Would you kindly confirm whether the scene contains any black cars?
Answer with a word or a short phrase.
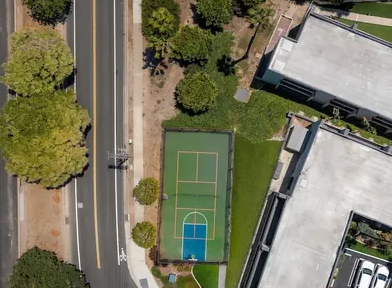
No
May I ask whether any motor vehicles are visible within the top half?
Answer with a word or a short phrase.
No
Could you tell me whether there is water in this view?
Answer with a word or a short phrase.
No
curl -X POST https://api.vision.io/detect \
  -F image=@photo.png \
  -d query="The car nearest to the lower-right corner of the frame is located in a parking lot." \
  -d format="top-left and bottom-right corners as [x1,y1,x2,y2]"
[371,265,390,288]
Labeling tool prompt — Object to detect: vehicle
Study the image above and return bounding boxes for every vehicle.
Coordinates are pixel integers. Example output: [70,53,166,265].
[371,265,390,288]
[354,260,376,288]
